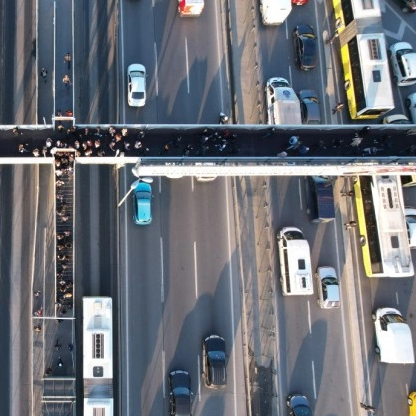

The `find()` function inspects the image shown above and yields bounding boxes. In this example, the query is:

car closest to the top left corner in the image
[125,64,149,107]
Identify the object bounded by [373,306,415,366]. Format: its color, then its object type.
white van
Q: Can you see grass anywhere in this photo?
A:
No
